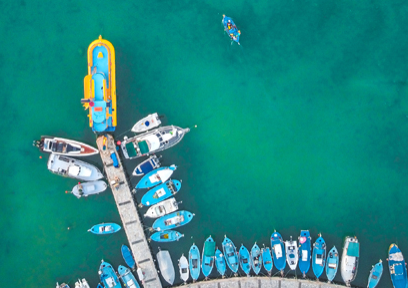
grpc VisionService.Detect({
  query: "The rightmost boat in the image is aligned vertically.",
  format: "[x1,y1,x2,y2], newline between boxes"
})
[386,242,408,288]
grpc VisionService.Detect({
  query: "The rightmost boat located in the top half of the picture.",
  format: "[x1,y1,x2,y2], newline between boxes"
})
[222,12,240,45]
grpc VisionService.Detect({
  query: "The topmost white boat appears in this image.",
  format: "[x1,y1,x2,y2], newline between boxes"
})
[114,112,164,139]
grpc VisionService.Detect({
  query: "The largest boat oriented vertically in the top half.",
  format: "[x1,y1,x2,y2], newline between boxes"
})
[80,34,118,137]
